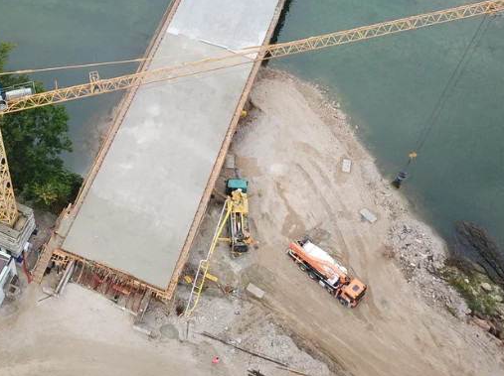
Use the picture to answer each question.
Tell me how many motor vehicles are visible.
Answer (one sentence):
Altogether the scene contains 2 motor vehicles.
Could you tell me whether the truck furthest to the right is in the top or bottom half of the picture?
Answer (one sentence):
The truck furthest to the right is in the bottom half of the image.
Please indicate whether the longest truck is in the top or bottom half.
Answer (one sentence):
The longest truck is in the bottom half of the image.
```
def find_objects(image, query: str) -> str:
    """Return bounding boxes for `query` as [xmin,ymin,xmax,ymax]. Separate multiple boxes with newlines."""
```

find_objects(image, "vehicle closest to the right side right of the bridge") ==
[287,241,373,303]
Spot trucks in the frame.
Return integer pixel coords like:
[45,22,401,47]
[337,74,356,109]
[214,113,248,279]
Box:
[178,166,268,343]
[287,241,373,303]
